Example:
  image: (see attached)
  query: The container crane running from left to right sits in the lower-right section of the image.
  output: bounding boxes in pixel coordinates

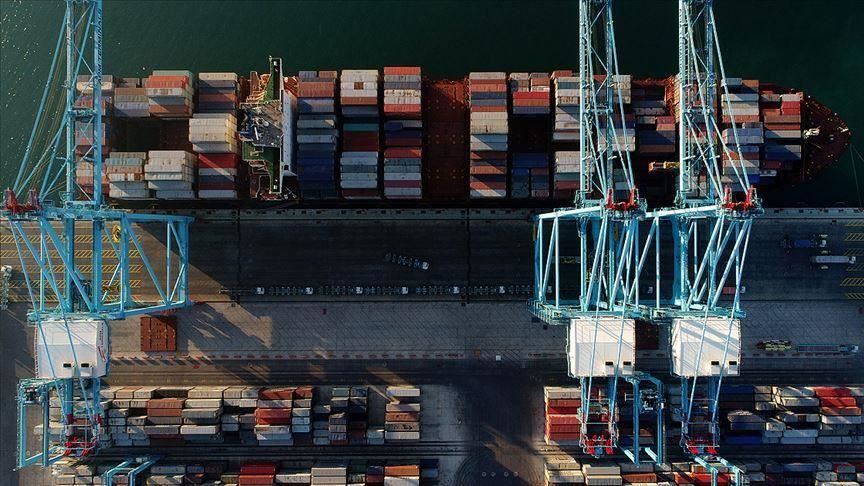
[690,453,757,486]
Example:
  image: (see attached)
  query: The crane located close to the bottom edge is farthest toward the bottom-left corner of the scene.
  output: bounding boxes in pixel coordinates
[14,375,89,470]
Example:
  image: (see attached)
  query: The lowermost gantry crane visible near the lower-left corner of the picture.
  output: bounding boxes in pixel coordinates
[100,453,167,486]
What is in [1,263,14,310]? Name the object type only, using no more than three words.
vehicle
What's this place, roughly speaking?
port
